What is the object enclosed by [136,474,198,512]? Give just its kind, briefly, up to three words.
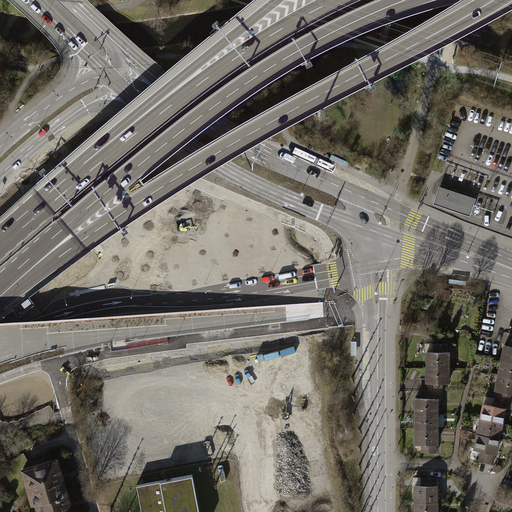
building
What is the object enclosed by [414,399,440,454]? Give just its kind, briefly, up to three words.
house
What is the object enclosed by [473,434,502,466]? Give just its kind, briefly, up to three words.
house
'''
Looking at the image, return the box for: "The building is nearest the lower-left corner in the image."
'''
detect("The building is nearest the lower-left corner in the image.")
[18,458,72,512]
